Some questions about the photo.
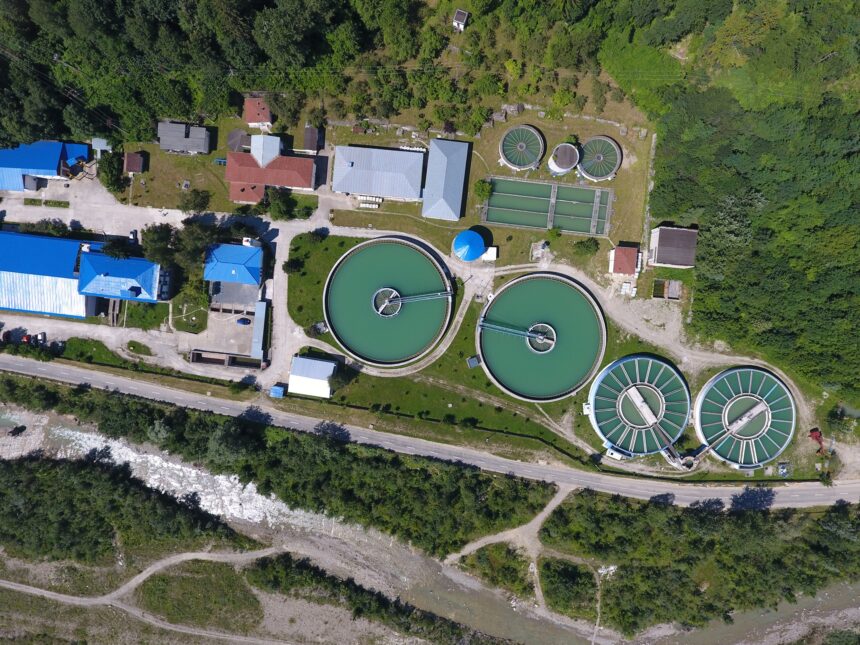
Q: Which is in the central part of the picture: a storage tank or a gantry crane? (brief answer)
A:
storage tank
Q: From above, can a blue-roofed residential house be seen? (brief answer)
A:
Yes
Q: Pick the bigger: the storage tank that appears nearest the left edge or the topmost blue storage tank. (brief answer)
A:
the storage tank that appears nearest the left edge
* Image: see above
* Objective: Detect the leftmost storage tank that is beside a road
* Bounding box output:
[322,237,454,368]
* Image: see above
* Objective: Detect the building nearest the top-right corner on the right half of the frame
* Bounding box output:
[649,225,699,270]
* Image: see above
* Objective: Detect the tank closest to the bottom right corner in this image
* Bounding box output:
[691,367,795,466]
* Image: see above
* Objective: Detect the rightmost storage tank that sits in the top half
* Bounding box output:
[571,135,622,186]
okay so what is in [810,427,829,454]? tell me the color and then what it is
red work vehicle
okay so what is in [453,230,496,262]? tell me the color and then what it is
blue storage tank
